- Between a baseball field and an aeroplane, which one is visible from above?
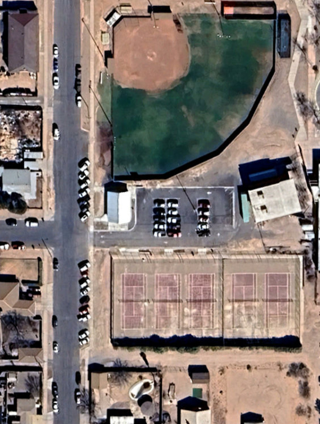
baseball field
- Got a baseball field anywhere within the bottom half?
No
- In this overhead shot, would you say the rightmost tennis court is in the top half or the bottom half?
bottom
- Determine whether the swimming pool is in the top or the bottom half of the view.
bottom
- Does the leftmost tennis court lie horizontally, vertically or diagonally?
vertically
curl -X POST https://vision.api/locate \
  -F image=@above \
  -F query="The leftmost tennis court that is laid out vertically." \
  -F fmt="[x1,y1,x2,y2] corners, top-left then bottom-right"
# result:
[122,273,147,329]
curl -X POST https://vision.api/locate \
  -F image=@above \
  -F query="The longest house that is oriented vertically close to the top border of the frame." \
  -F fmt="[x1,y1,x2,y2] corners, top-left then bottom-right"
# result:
[7,6,38,73]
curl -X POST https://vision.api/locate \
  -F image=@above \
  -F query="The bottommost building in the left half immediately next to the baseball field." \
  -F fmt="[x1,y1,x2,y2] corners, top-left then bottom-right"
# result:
[107,189,132,225]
